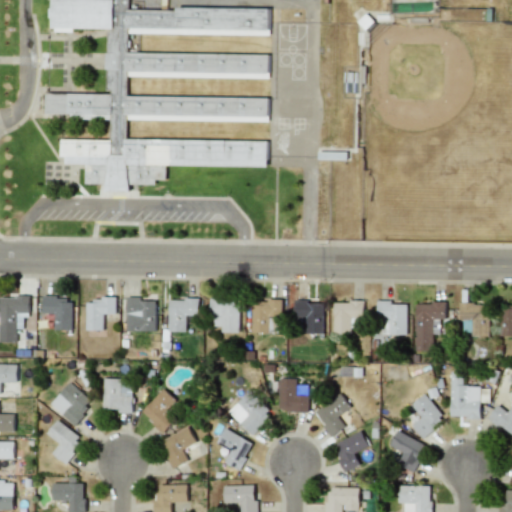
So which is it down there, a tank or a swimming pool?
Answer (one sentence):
This aerial view contains a swimming pool.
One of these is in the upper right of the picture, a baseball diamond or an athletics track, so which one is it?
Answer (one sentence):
Visible in the upper right of the picture is a baseball diamond.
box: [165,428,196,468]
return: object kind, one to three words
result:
house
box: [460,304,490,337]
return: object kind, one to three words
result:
house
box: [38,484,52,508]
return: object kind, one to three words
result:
swimming pool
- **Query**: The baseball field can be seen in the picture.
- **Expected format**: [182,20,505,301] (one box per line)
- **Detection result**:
[368,24,475,134]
